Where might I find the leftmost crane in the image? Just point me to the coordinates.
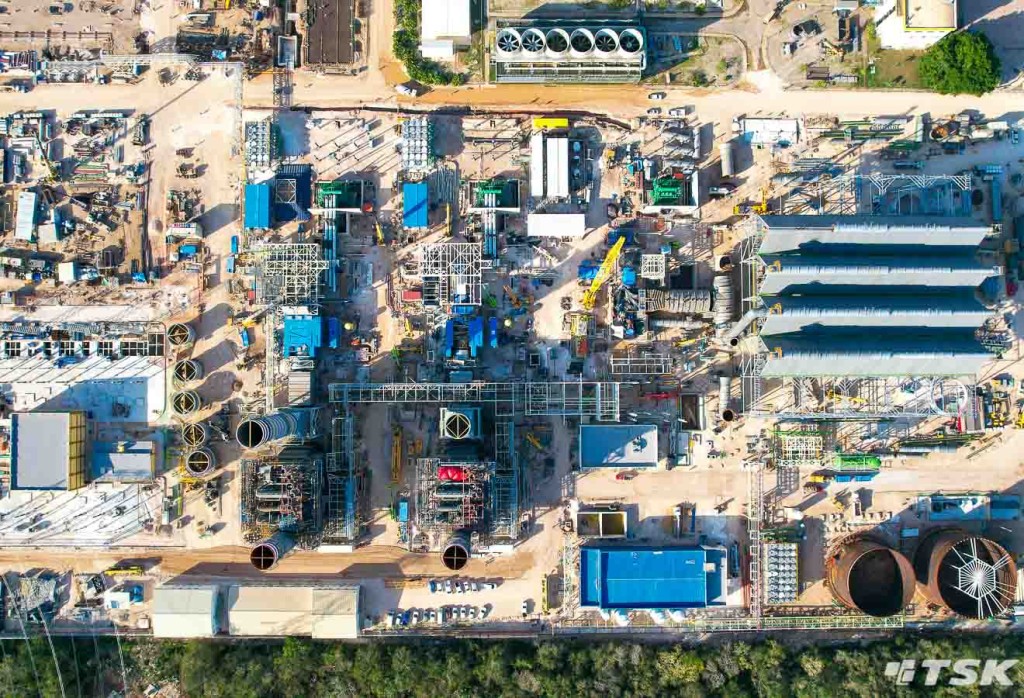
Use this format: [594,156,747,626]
[0,108,66,185]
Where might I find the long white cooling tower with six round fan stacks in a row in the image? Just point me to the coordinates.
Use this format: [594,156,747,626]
[494,25,647,86]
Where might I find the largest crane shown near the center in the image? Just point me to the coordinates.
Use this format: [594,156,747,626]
[565,240,622,353]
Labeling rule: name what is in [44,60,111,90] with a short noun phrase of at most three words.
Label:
shed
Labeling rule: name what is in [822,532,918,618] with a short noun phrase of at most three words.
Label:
storage tank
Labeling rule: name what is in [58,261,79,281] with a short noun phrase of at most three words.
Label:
building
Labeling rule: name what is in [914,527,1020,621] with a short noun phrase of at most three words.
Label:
storage tank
